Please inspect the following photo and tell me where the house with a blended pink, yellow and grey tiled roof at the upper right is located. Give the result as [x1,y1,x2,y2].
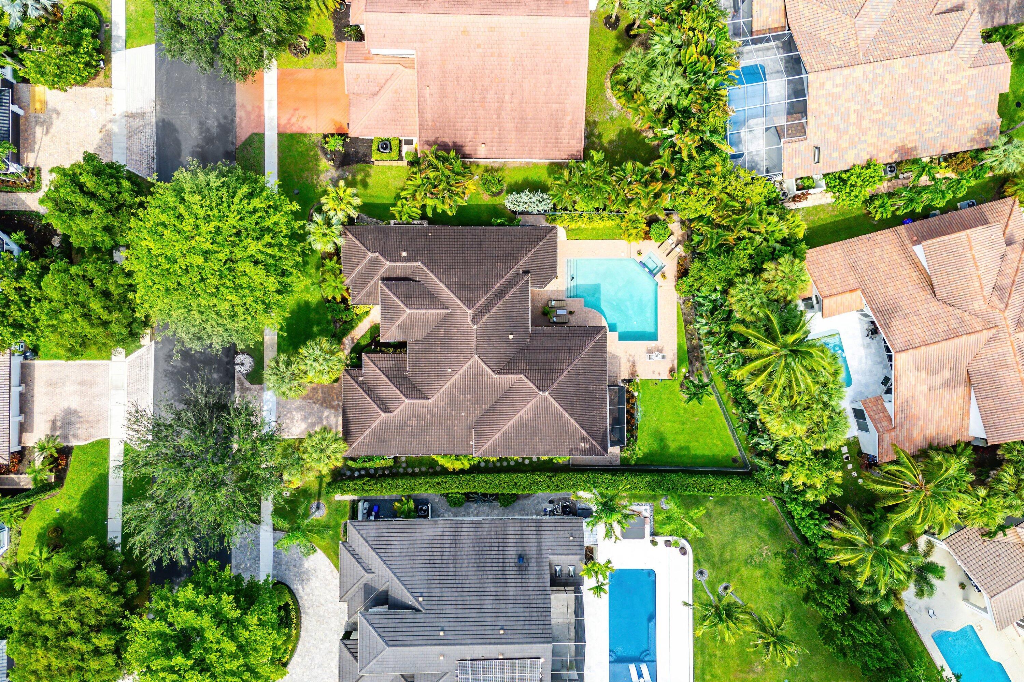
[746,0,1014,181]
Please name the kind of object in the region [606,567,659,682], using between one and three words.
swimming pool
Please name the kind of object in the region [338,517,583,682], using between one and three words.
house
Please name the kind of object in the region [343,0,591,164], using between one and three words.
house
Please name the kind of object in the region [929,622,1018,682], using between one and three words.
swimming pool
